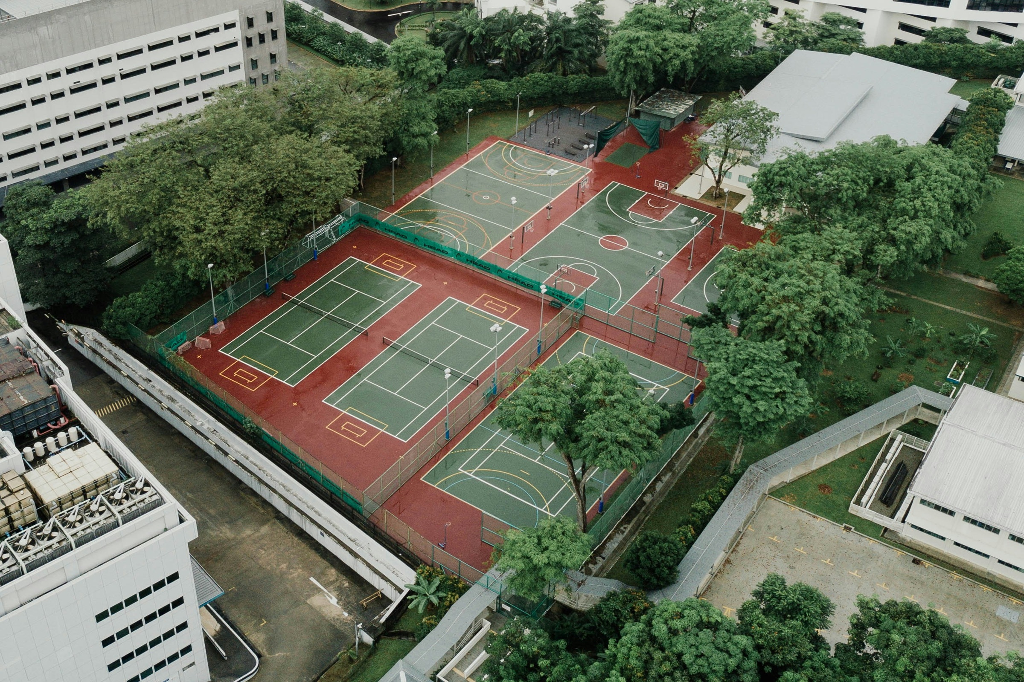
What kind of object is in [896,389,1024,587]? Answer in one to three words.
building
